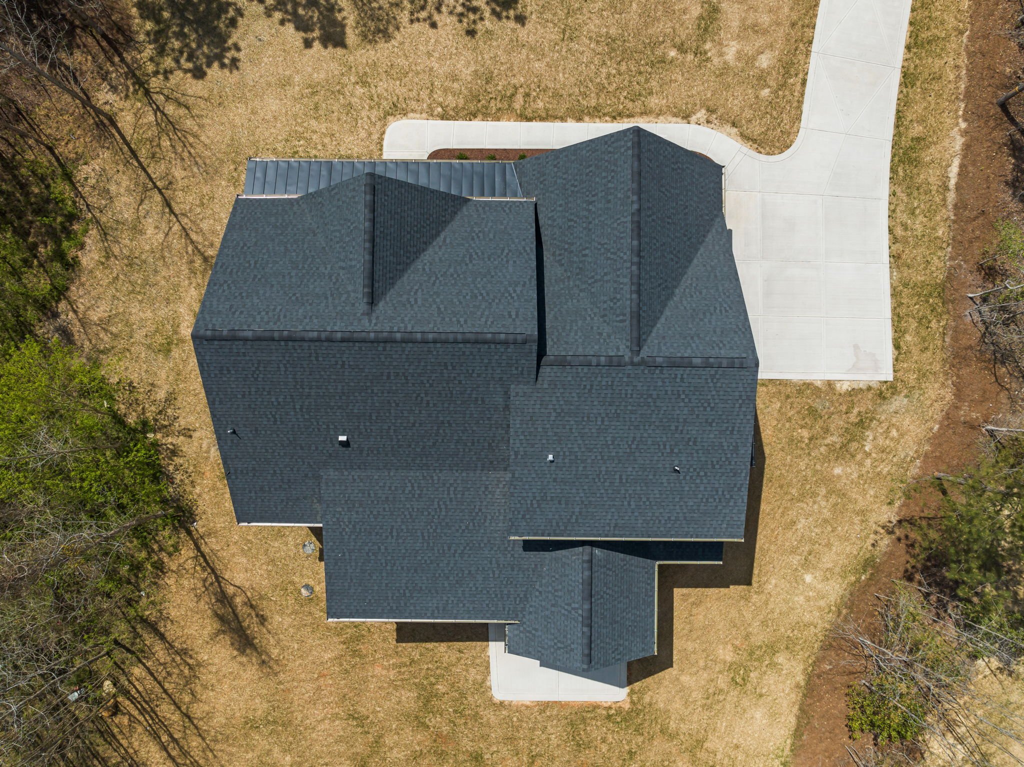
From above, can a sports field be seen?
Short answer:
No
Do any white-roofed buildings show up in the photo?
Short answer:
No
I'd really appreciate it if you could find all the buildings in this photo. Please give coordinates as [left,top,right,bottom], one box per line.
[192,125,758,673]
